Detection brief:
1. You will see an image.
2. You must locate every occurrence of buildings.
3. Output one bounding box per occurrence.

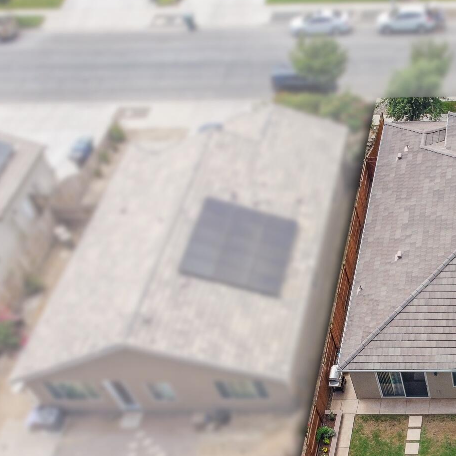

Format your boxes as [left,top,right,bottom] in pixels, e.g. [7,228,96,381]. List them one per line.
[336,110,456,399]
[7,101,351,412]
[0,121,62,289]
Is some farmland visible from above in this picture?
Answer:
No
